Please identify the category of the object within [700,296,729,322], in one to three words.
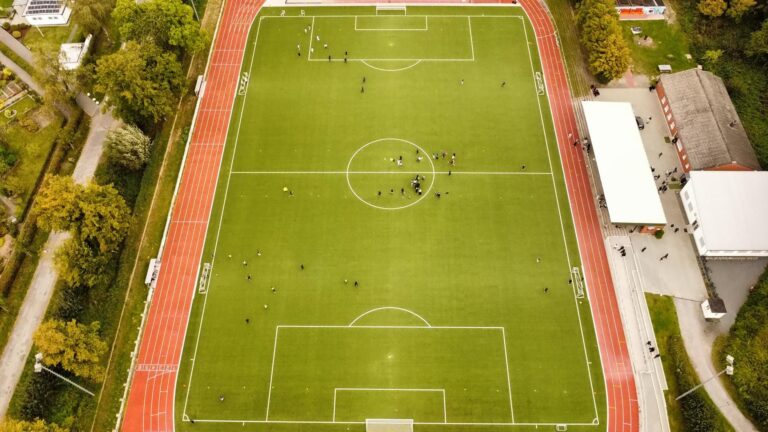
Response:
shed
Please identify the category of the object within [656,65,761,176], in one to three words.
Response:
building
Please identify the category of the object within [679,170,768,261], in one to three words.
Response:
building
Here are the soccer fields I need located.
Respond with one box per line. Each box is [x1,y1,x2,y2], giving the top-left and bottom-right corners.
[174,7,607,432]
